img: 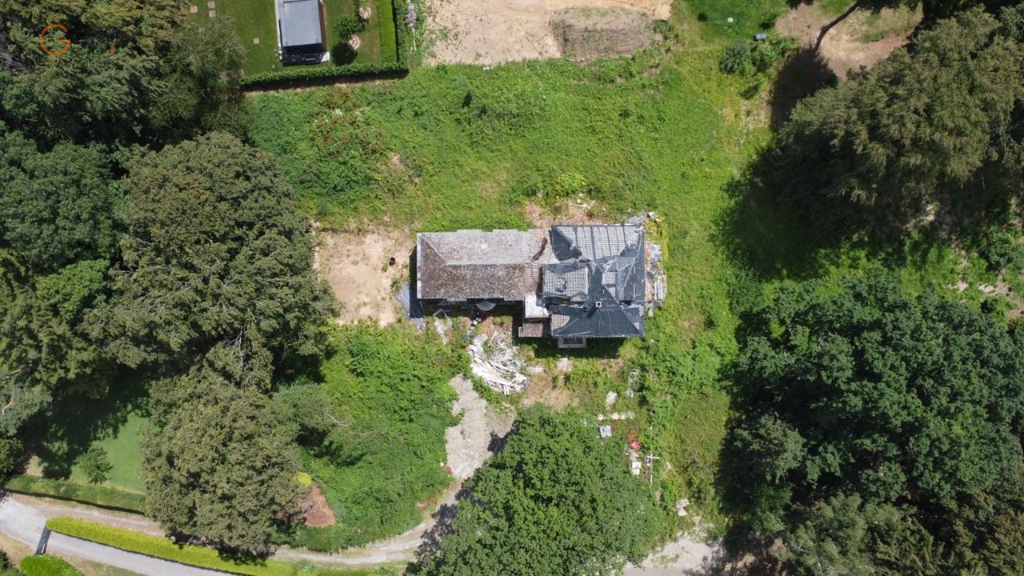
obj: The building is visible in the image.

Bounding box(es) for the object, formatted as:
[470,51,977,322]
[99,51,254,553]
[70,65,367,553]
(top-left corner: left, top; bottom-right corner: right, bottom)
[403,223,645,348]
